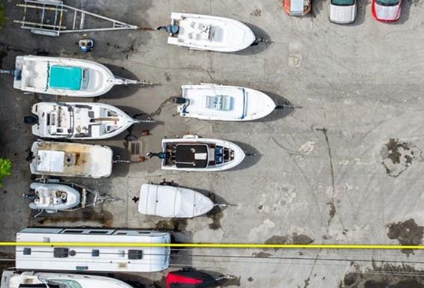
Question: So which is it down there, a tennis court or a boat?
boat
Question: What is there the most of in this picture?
paved ground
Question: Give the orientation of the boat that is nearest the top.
from side to side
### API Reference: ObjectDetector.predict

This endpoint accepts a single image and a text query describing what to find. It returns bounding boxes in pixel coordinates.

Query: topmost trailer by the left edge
[19,0,147,35]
